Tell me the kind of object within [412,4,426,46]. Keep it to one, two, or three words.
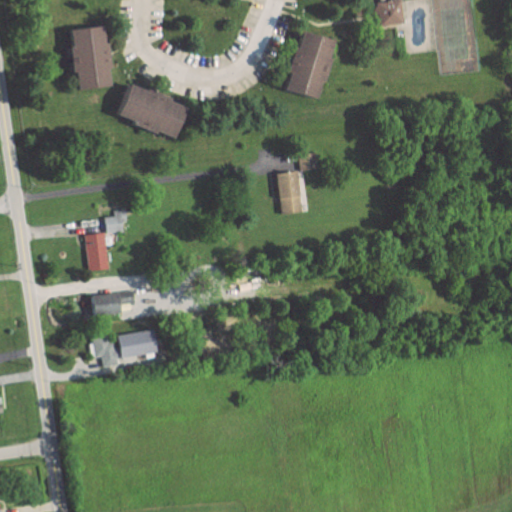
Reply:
swimming pool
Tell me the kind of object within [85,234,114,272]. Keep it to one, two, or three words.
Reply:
house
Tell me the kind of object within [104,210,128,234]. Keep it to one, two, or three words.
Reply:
building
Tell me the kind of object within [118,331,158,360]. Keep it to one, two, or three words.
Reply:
house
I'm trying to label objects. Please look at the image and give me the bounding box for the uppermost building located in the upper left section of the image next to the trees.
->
[72,24,112,89]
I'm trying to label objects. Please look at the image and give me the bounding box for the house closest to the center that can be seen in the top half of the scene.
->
[278,171,308,214]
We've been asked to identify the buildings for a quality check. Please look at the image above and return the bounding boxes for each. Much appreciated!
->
[278,171,308,214]
[118,331,158,360]
[104,210,128,234]
[85,234,114,272]
[288,30,336,98]
[118,84,186,138]
[298,156,313,172]
[72,24,112,89]
[375,0,404,26]
[89,340,118,368]
[91,290,134,315]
